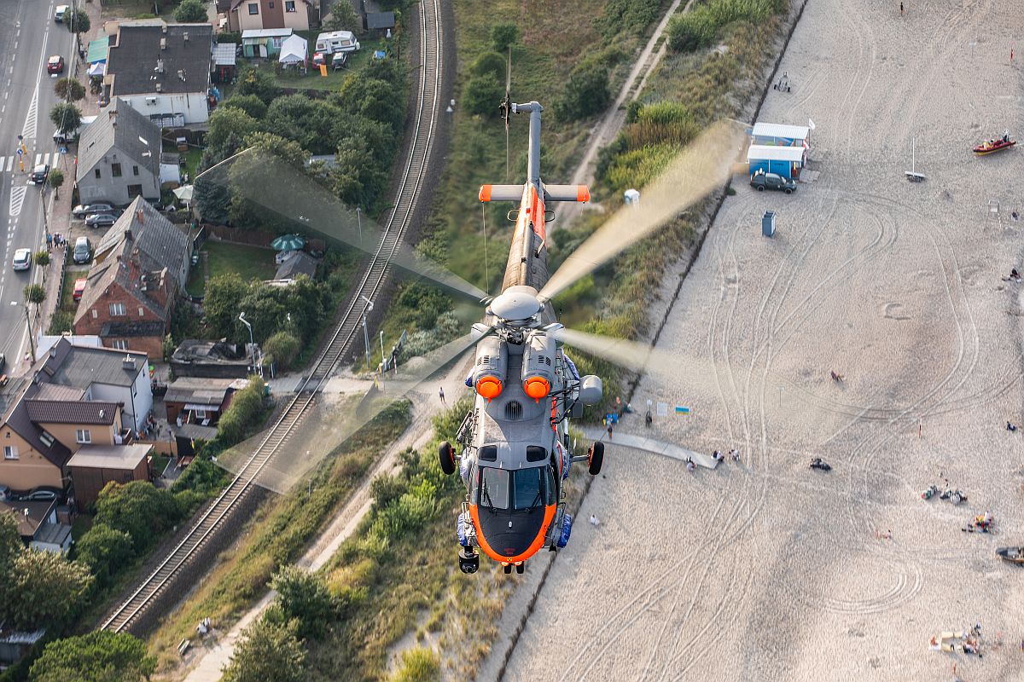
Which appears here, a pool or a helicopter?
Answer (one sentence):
This aerial view contains a helicopter.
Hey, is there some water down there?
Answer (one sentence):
No, water can't be seen anywhere here.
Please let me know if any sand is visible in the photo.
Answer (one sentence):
Yes, the picture does contain sand.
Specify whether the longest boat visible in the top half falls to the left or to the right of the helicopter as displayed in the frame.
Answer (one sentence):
To the right of the helicopter is where the longest boat visible in the top half appears.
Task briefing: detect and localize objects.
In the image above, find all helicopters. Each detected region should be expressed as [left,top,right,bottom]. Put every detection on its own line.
[216,44,834,573]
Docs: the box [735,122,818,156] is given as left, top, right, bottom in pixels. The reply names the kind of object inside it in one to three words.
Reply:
shed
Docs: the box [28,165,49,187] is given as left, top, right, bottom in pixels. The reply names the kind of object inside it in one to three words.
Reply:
car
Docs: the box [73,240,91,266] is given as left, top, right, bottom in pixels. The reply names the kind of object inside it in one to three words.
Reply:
car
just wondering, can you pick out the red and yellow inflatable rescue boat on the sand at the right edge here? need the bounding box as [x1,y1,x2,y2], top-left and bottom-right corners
[973,134,1019,155]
